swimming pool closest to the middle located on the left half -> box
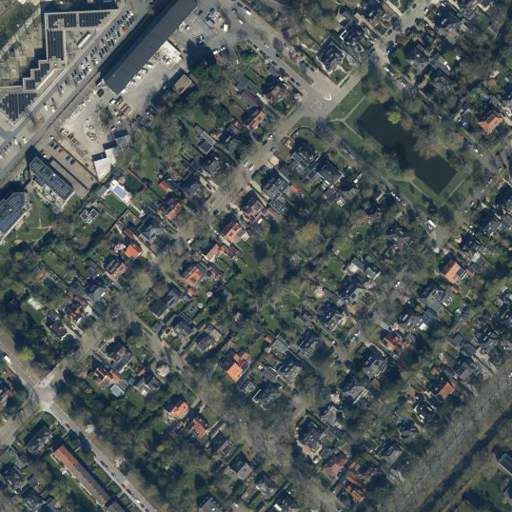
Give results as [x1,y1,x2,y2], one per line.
[112,183,129,202]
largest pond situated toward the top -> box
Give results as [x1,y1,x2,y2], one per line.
[358,100,457,195]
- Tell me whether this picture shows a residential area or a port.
residential area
